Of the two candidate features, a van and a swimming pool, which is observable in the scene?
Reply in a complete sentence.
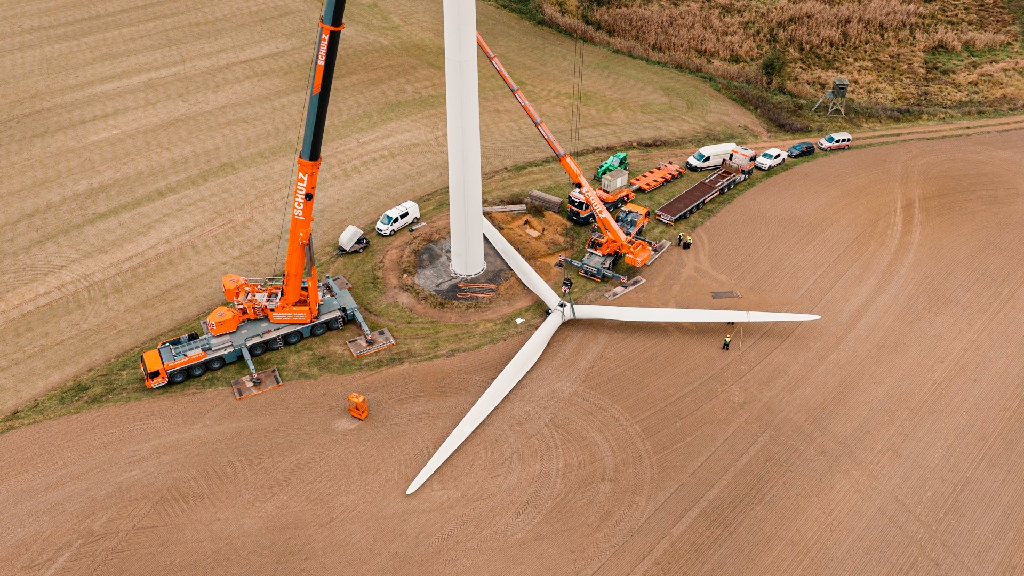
There is a van in the scene.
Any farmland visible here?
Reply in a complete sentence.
Yes, there is farmland in the image.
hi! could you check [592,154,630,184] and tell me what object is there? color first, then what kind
green work vehicle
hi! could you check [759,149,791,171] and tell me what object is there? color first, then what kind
white truck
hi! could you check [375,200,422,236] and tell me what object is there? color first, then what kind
white van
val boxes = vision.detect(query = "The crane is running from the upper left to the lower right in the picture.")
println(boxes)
[475,24,662,291]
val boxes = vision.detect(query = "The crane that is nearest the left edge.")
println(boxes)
[135,0,374,390]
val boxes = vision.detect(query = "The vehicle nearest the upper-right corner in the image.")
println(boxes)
[817,132,853,152]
